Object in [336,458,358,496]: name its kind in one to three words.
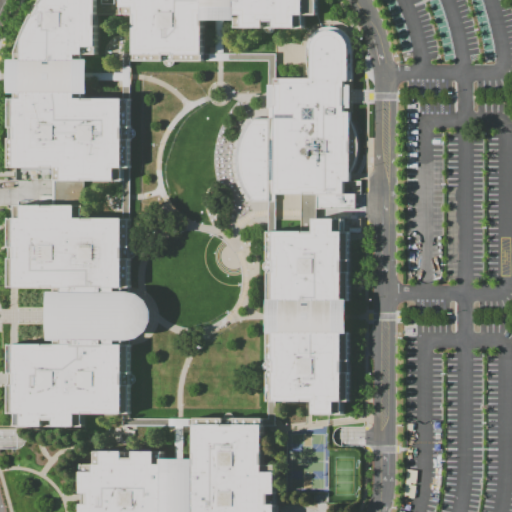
sports court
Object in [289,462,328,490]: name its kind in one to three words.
basketball court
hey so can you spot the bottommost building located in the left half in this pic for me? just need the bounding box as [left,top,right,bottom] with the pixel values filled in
[76,414,277,512]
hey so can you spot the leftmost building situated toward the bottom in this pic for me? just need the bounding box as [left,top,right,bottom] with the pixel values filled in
[5,205,154,427]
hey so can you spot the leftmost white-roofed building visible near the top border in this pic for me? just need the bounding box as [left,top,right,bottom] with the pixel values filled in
[4,0,130,201]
